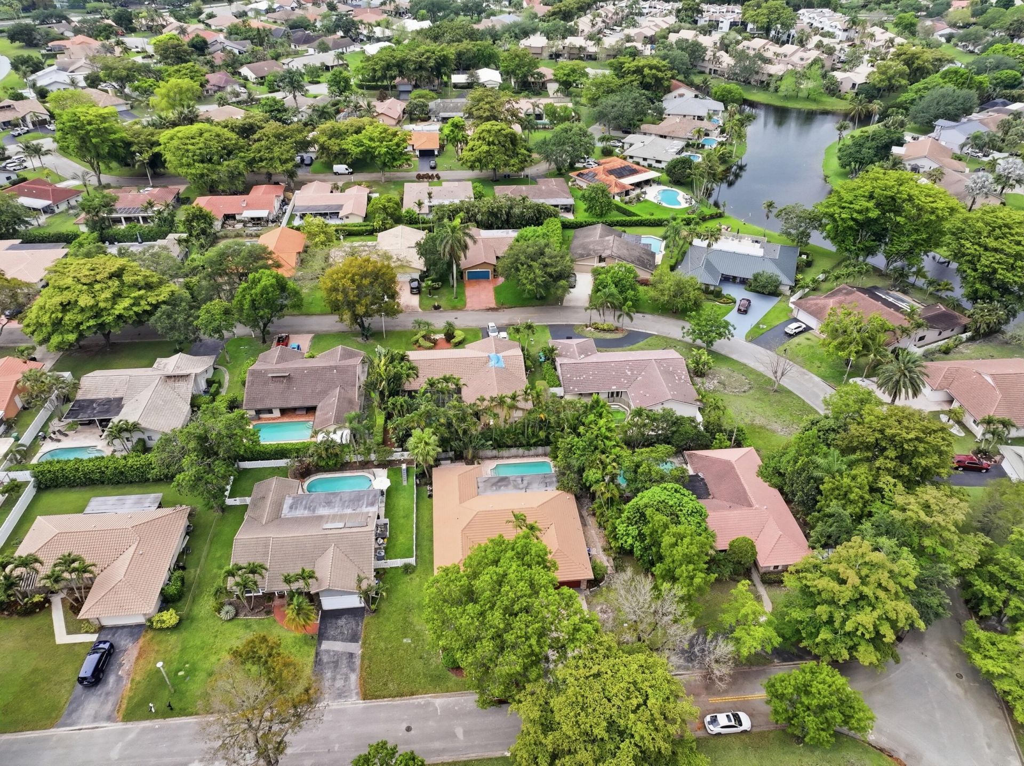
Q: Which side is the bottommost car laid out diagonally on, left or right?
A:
left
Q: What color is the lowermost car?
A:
white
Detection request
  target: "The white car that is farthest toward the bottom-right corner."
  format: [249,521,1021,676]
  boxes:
[704,708,755,736]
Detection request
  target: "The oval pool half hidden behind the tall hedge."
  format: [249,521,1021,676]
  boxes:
[32,443,112,464]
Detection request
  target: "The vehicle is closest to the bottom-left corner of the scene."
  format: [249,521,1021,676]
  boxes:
[74,640,112,682]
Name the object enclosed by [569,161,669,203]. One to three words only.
house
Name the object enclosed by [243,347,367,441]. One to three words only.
house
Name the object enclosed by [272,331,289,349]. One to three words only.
vehicle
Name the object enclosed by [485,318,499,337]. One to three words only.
car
